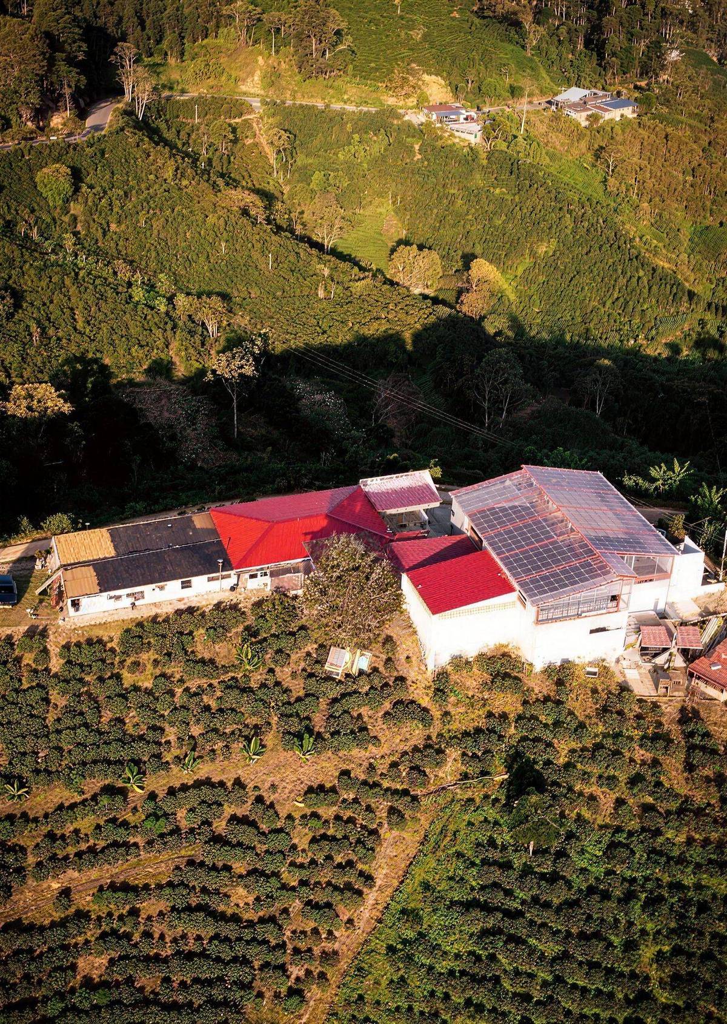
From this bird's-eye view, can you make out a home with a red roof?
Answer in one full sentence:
Yes, the photo shows a home with a red roof.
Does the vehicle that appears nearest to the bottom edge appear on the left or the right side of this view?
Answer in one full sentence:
You can find the vehicle that appears nearest to the bottom edge on the left side of the picture.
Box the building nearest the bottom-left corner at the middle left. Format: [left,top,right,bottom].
[50,511,231,617]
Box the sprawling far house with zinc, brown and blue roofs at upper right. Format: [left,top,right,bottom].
[552,86,638,122]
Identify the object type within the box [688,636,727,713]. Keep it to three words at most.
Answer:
house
